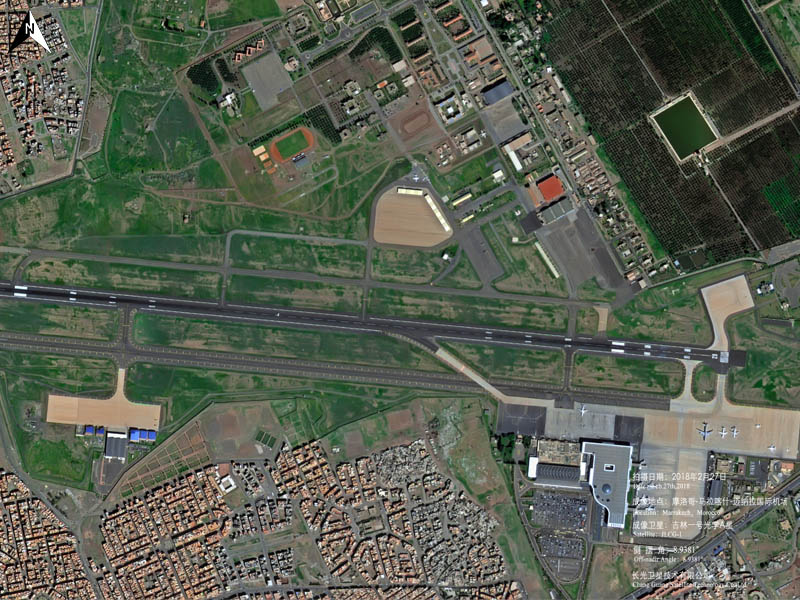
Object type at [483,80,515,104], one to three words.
hangar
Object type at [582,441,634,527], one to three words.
building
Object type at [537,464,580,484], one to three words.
building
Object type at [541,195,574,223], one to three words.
hangar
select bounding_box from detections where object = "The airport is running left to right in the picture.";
[0,162,800,545]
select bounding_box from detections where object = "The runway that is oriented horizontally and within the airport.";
[0,280,730,366]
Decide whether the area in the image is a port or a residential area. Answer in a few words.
residential area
